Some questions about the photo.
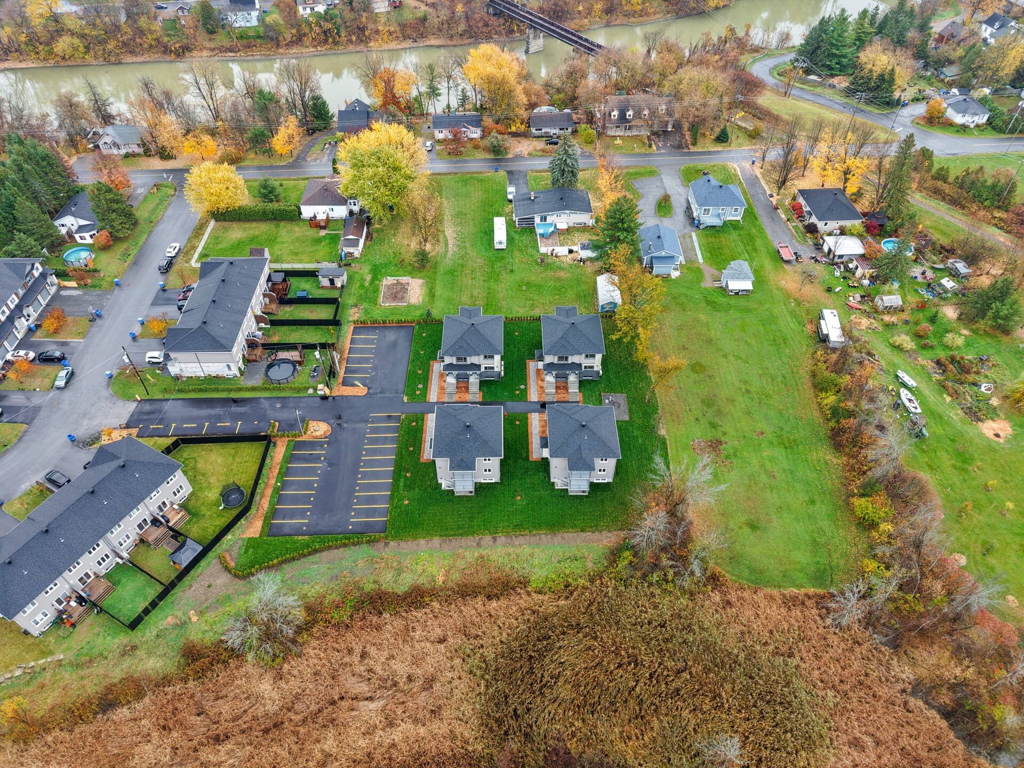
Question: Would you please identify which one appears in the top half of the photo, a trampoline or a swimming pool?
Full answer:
What appears in the top half of the photo is a swimming pool.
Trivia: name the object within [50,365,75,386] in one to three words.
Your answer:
car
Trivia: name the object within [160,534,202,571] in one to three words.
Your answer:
gazebo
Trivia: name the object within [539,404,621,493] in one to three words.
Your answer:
house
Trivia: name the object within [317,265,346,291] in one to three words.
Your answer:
shed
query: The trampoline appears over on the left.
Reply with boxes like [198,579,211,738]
[214,480,246,509]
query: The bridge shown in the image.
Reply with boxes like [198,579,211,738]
[489,0,620,80]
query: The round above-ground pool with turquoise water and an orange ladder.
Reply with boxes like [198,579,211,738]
[59,245,95,269]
